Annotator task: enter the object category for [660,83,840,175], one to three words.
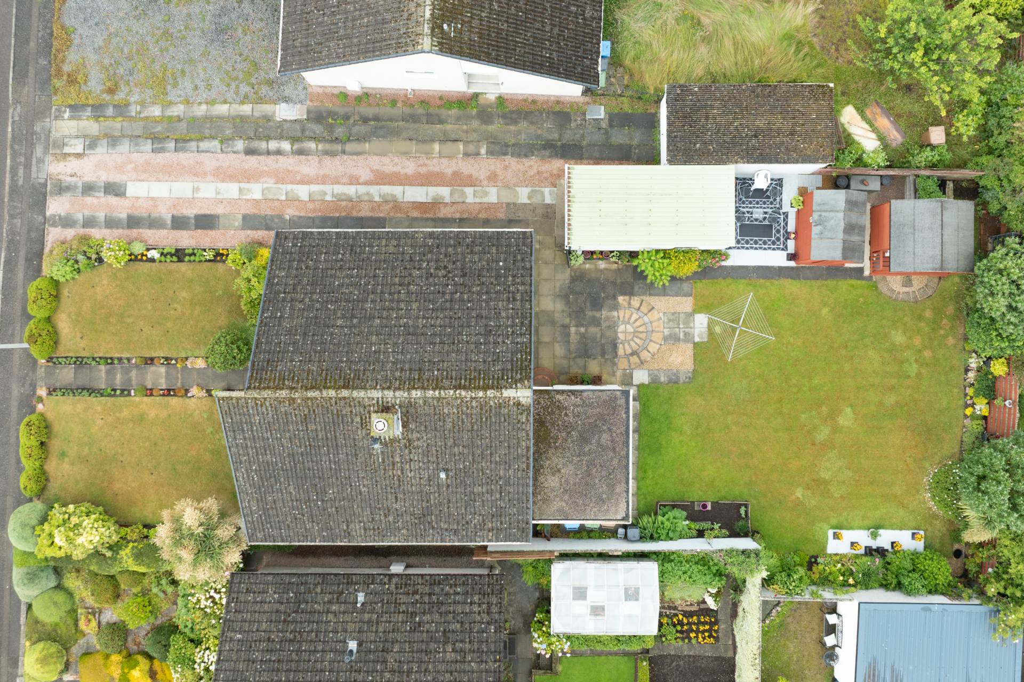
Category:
building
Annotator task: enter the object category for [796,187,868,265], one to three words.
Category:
shed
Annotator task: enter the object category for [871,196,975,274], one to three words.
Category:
shed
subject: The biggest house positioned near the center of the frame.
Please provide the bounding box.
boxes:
[210,227,631,546]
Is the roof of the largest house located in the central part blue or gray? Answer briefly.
gray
